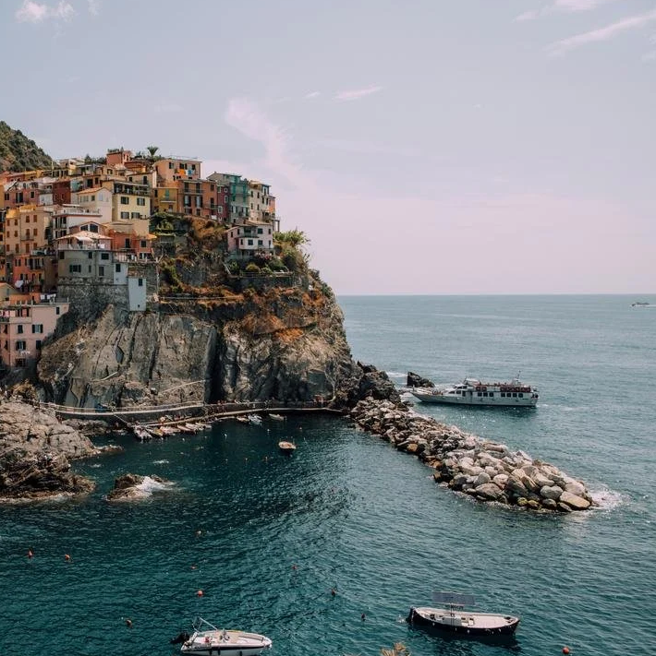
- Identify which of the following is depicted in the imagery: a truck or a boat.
boat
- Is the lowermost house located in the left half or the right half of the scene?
left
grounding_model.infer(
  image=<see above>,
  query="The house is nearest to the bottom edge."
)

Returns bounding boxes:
[0,300,69,373]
